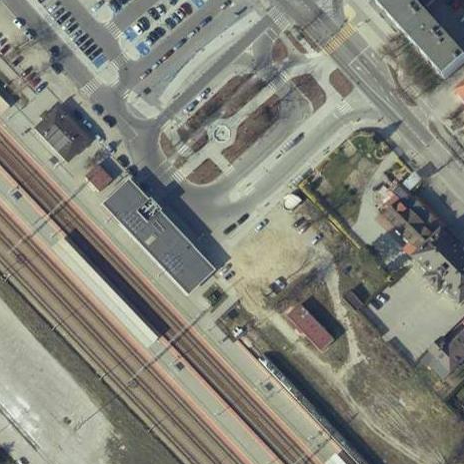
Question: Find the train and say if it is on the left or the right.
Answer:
right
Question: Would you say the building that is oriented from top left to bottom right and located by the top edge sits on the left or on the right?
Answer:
right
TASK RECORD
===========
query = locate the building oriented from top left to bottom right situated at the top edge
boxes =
[374,0,463,76]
